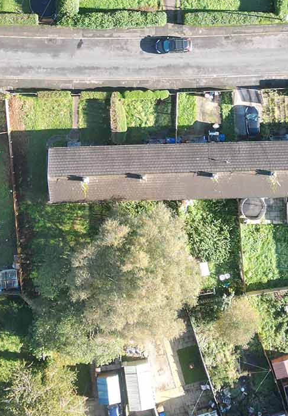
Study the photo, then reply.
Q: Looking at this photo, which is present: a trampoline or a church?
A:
trampoline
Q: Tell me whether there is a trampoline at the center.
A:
No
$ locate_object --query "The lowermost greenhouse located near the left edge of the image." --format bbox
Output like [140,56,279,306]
[0,265,20,289]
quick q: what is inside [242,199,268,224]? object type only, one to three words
trampoline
